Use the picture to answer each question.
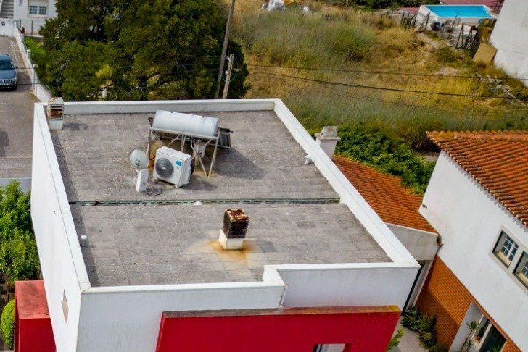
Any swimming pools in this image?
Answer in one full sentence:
Yes, this view includes a swimming pool.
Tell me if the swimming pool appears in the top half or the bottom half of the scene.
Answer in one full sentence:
The top half of the photo is where the swimming pool is.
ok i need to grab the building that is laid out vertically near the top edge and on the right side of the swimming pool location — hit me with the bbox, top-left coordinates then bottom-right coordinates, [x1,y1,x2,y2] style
[493,0,528,79]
